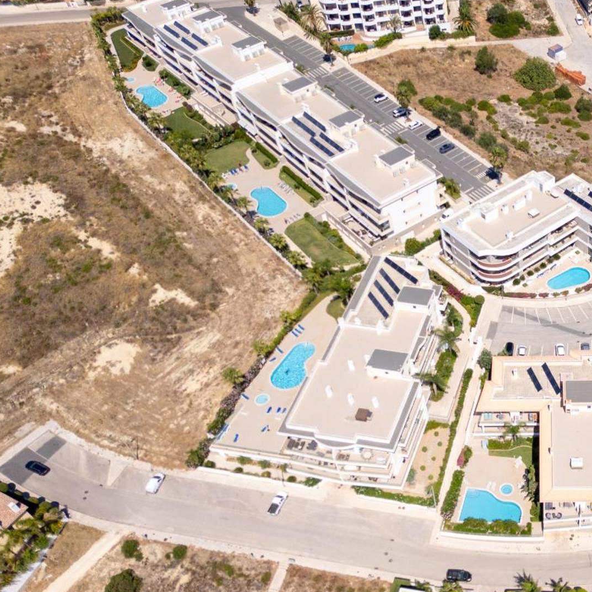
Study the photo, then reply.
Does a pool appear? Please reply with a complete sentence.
Yes, the picture does show a pool.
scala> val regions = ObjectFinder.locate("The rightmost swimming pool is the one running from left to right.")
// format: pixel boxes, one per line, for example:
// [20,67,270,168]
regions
[546,266,592,291]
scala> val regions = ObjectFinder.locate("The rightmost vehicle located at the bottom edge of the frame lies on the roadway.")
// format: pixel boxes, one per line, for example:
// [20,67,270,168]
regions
[445,566,474,583]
